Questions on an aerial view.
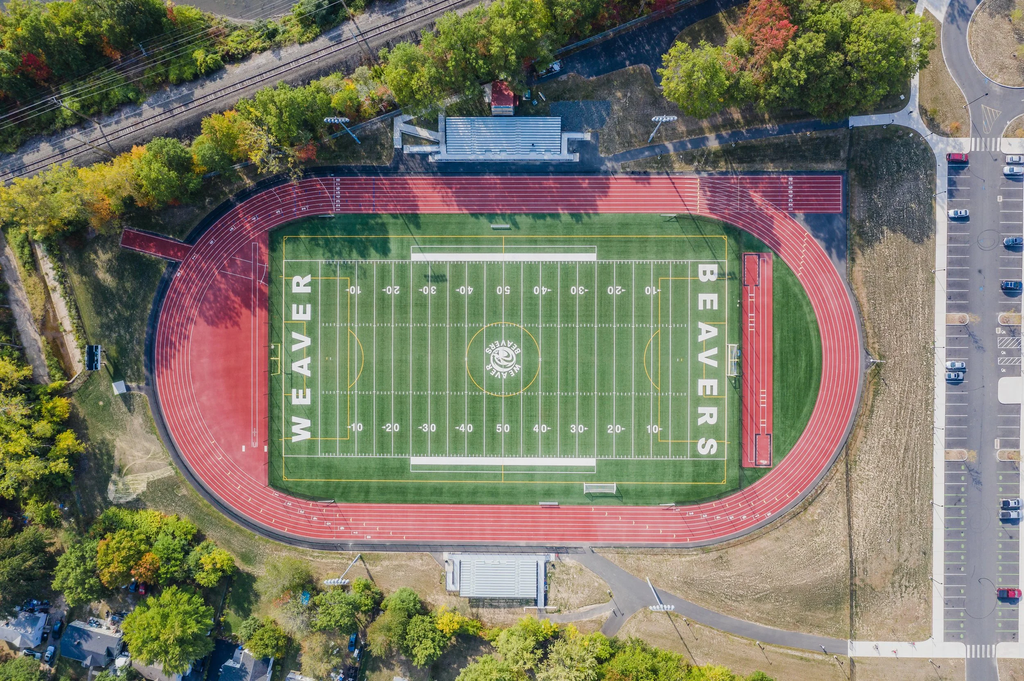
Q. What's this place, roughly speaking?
sports ground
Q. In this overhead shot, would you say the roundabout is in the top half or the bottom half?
top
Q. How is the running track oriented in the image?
horizontally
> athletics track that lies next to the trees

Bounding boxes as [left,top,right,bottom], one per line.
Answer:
[121,174,861,543]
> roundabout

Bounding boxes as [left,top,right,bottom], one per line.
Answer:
[942,0,1024,143]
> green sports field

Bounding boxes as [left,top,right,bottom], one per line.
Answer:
[268,212,824,506]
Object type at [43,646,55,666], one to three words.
vehicle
